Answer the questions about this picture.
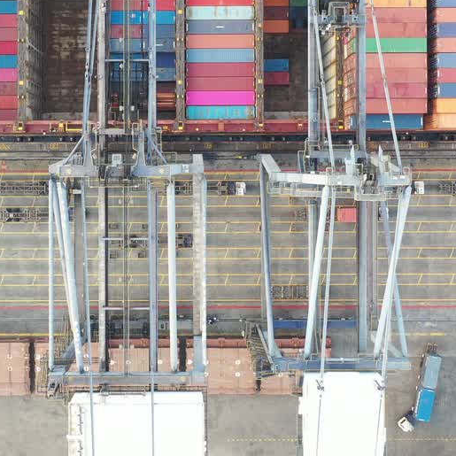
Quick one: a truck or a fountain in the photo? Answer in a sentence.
The image shows a truck.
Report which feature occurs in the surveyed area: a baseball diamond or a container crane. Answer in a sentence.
Looking from above, you can make out a container crane.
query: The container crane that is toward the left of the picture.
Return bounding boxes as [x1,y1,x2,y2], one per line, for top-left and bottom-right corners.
[25,0,218,456]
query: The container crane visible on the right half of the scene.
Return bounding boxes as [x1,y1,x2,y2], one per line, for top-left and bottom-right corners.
[234,0,416,456]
